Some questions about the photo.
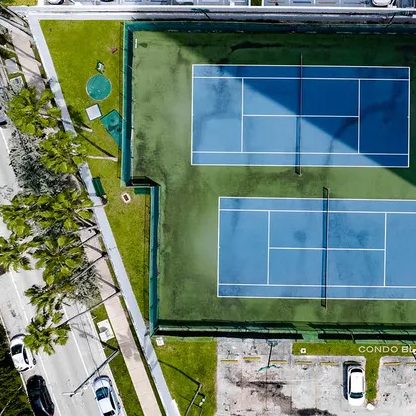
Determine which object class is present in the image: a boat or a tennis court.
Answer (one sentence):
It is a tennis court that can be seen here.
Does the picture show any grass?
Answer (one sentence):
Yes, grass shows up in the scene.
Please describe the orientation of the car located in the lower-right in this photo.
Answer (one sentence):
What the image shows is the car located in the lower-right lying vertically.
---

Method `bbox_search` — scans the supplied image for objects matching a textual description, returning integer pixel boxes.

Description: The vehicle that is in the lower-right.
[345,360,365,404]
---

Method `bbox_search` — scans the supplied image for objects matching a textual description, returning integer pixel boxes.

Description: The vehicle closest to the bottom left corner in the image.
[26,376,57,416]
